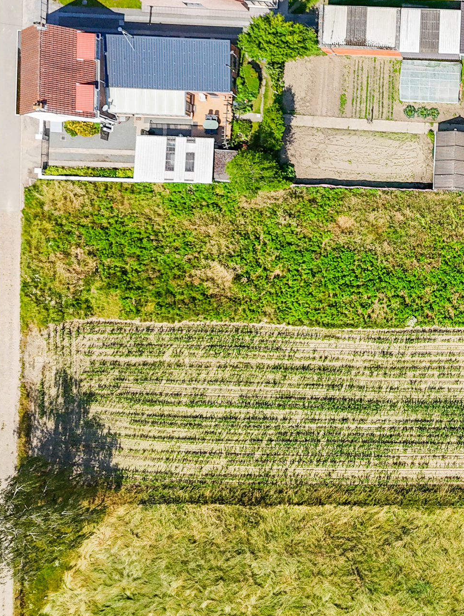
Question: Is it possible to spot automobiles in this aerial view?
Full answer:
No, I find no automobile anywhere in the image.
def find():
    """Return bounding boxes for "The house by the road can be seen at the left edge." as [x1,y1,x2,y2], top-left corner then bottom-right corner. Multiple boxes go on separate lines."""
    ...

[15,20,115,125]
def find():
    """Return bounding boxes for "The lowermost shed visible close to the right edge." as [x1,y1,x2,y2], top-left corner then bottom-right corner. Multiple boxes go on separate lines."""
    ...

[432,129,464,192]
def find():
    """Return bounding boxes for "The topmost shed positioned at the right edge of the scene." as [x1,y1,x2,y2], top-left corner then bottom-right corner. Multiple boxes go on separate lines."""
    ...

[319,2,464,62]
